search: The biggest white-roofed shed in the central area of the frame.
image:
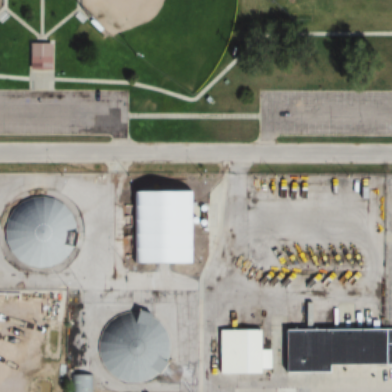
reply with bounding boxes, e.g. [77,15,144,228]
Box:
[135,191,194,266]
